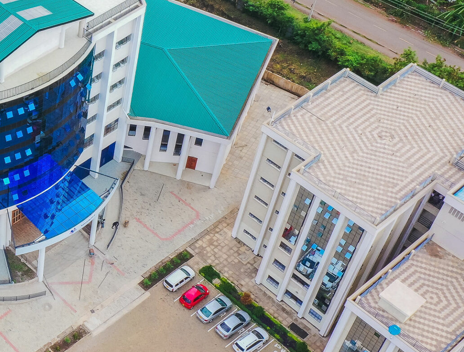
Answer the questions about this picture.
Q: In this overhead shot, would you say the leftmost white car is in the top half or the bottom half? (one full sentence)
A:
The bottom half of the photo is where the leftmost white car is.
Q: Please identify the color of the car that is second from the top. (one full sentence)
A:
From above, the car that is second from the top appears red.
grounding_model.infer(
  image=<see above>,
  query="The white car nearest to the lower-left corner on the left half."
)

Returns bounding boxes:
[164,265,201,295]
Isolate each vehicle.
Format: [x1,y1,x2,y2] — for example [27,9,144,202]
[195,295,234,325]
[164,265,201,295]
[181,280,217,309]
[230,324,271,352]
[213,309,252,341]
